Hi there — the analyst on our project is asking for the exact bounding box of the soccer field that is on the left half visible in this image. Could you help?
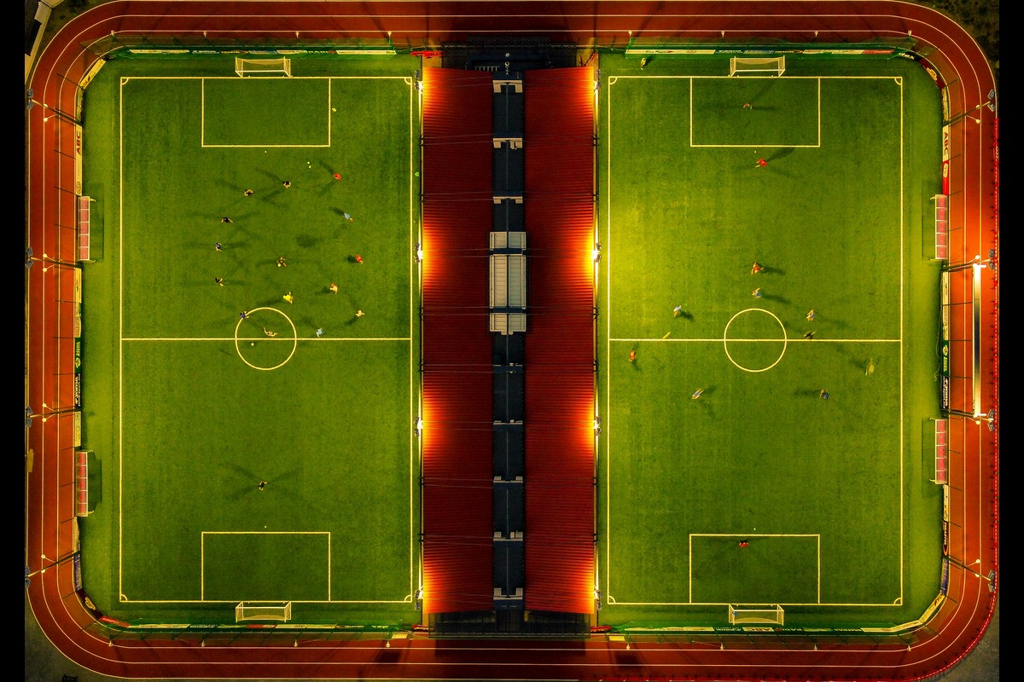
[74,47,419,632]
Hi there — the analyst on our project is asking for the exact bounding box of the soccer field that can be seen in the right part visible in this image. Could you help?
[601,47,949,635]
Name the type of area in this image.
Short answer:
sports ground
